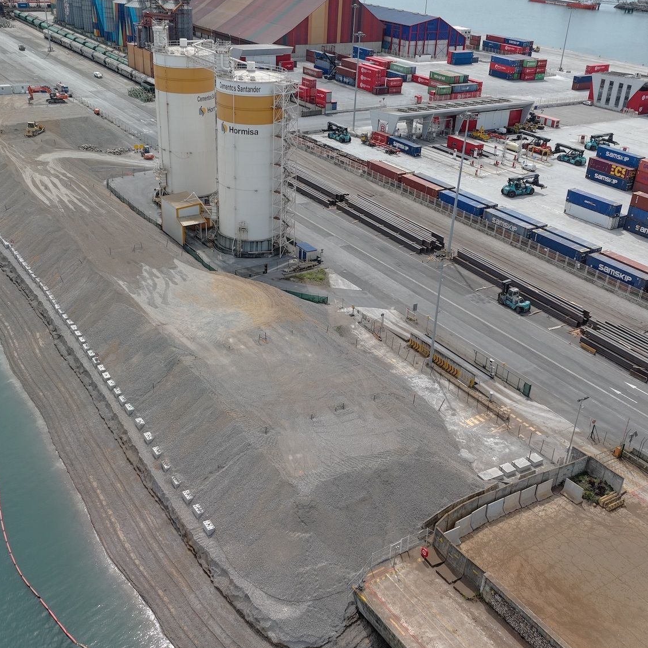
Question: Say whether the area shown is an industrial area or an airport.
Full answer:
This looks like an industrial area.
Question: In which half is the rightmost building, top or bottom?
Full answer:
You can find the rightmost building in the top half.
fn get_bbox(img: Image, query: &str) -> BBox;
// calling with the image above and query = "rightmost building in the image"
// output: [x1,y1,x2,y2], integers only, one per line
[593,70,648,116]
